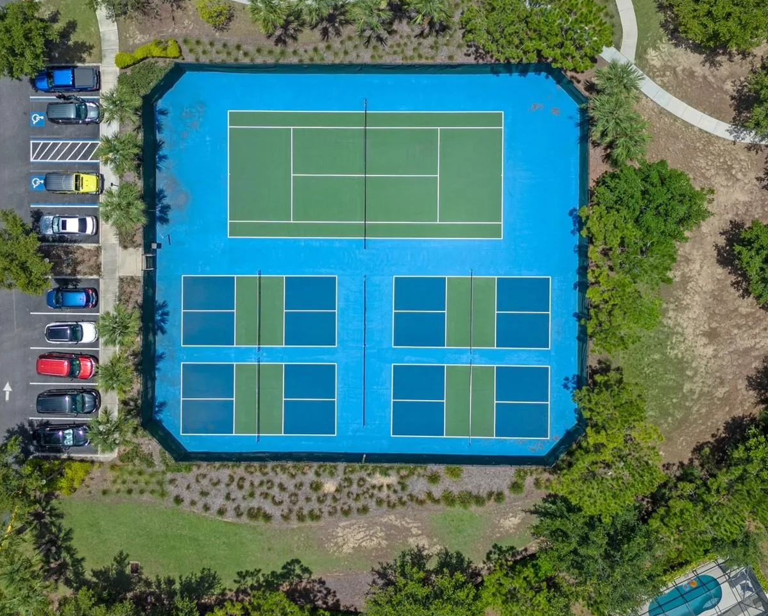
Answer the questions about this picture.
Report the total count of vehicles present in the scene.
9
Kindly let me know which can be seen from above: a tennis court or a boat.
tennis court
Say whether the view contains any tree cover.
Yes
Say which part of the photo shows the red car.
left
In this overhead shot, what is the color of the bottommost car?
black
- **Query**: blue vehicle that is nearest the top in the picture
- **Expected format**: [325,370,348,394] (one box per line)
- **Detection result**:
[35,64,101,93]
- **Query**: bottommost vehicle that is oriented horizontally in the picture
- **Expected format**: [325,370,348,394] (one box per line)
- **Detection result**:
[32,423,91,451]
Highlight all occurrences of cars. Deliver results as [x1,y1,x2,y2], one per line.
[36,353,100,381]
[47,284,100,312]
[42,319,99,347]
[41,212,98,238]
[44,94,103,126]
[38,169,102,195]
[32,423,91,451]
[35,389,101,416]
